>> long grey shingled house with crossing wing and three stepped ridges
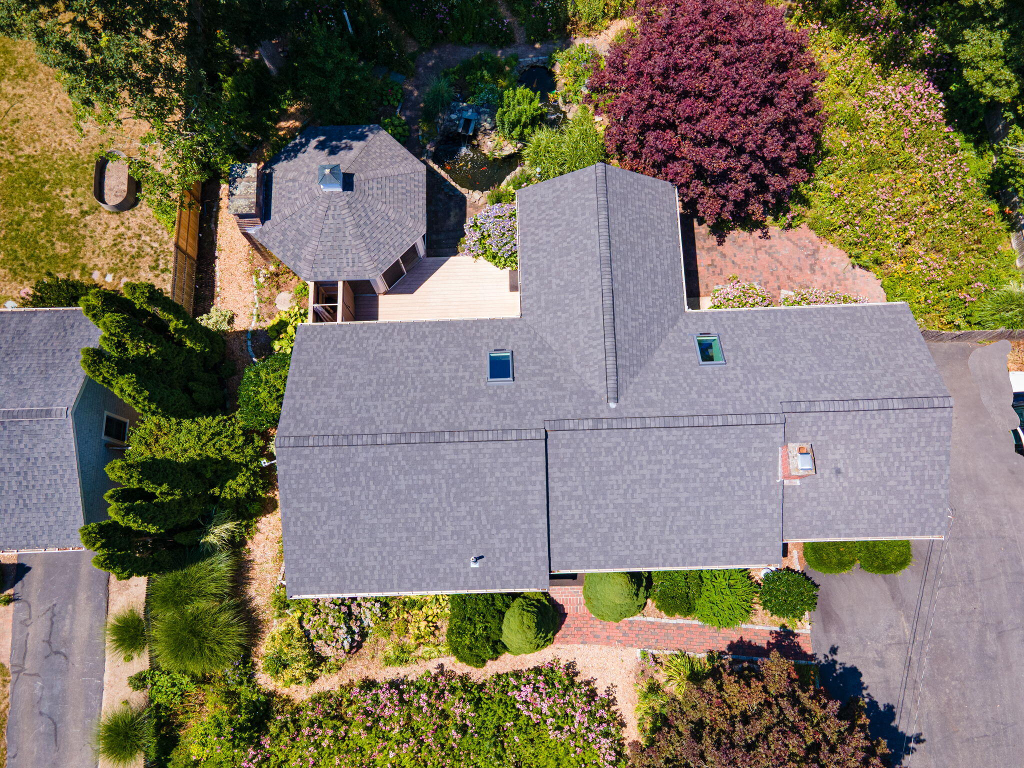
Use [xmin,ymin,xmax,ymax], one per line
[259,165,953,601]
